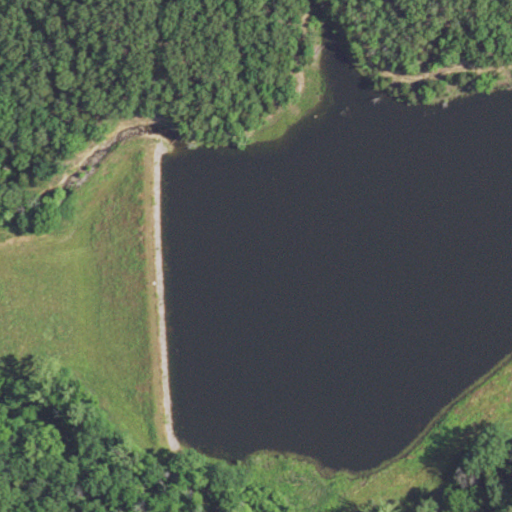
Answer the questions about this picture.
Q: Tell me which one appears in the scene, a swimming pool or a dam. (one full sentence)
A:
Of the two, only a dam appears.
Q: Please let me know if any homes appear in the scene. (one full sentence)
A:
No, there is no home in the image.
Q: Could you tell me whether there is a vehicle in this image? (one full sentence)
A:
No, no vehicle is visible in the view.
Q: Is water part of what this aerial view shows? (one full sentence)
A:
Yes, water can be seen from above here.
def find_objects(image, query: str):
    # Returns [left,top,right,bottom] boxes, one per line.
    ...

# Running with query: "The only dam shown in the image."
[94,136,181,454]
